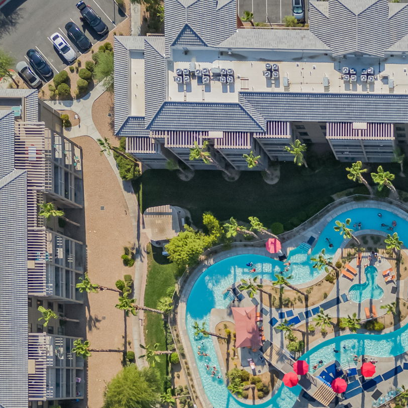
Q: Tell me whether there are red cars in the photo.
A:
No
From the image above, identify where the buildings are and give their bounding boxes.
[113,0,408,172]
[144,206,181,239]
[0,87,82,408]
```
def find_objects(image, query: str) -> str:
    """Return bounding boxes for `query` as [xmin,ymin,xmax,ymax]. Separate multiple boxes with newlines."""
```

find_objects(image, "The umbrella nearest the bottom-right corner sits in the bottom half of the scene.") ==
[361,362,377,377]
